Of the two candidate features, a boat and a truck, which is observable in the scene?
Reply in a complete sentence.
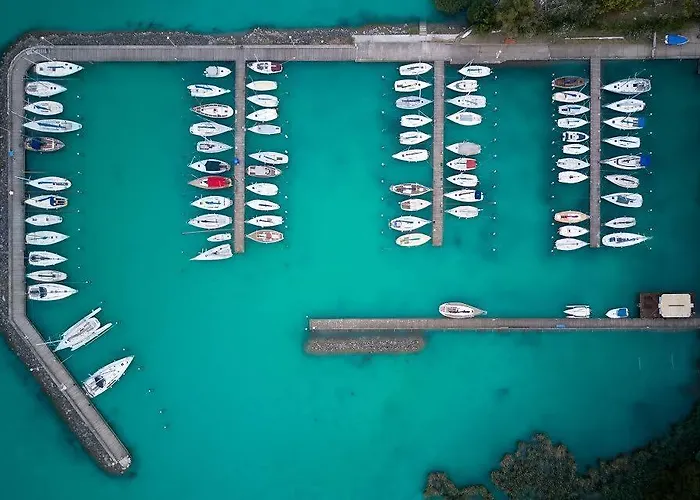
There is a boat in the scene.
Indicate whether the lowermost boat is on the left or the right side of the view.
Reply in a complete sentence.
It is on the left.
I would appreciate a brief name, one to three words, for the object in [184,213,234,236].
boat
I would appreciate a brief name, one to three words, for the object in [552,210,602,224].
boat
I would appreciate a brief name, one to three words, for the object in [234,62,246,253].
pier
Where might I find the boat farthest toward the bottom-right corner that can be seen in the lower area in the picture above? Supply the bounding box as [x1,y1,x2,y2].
[604,305,631,319]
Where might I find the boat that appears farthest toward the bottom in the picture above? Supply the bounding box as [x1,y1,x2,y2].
[75,352,138,403]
